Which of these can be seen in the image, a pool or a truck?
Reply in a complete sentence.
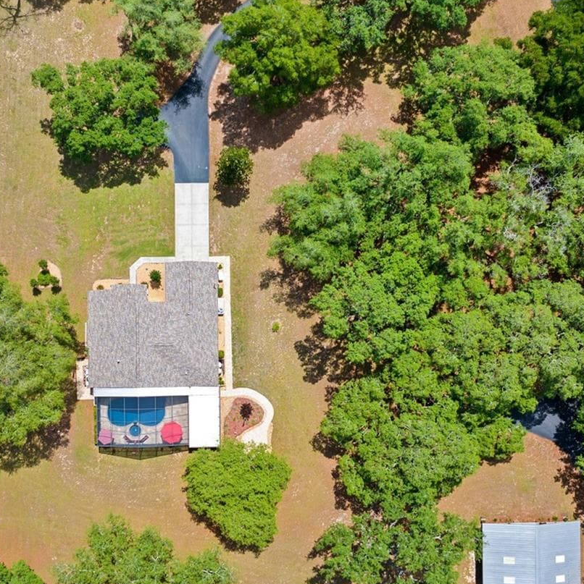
It is a pool that can be seen here.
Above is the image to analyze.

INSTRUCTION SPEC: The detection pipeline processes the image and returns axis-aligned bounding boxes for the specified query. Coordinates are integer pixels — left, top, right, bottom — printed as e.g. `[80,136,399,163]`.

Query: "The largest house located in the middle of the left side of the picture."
[85,260,218,388]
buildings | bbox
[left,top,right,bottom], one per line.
[476,522,582,584]
[85,260,218,388]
